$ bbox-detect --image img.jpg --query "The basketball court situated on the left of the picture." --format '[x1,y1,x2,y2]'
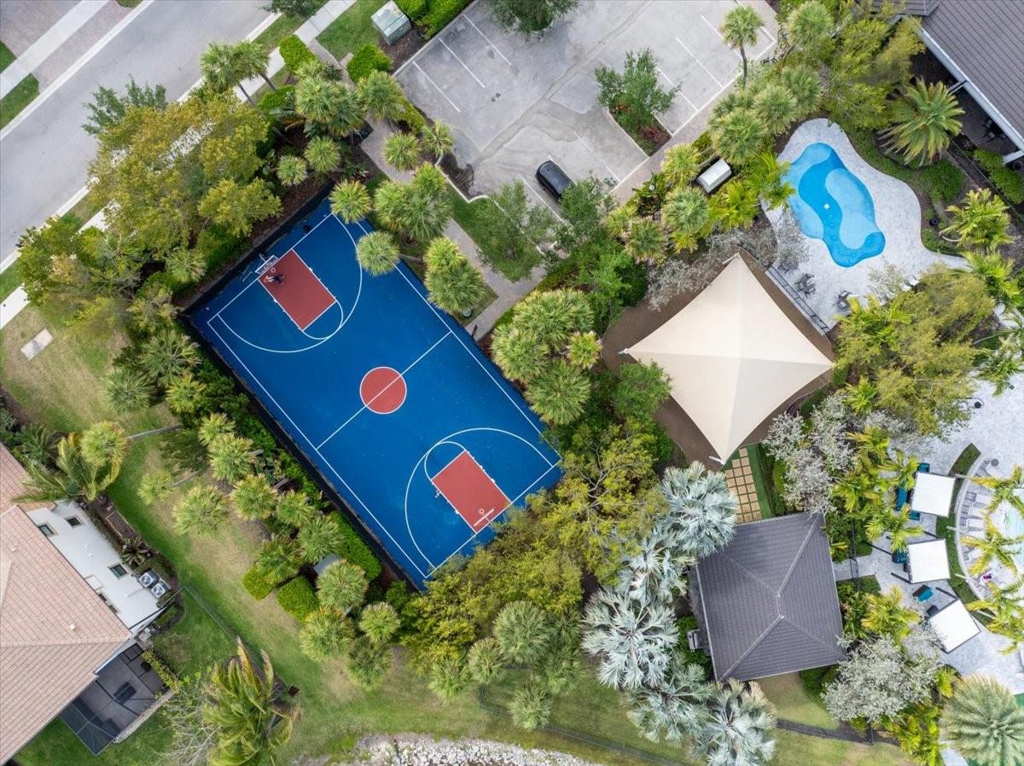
[183,181,584,602]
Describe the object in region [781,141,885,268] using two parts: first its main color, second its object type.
blue swimming pool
